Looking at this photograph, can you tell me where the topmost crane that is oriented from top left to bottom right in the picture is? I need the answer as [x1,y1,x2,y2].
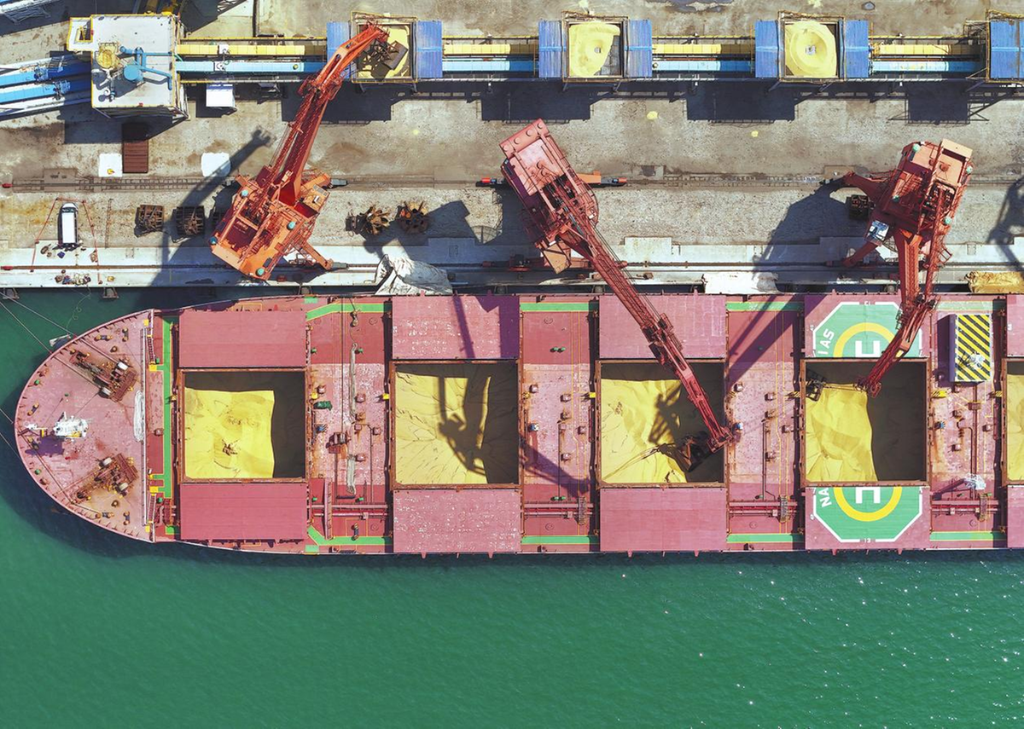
[477,123,740,452]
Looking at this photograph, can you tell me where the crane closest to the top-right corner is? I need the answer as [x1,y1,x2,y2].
[829,139,977,394]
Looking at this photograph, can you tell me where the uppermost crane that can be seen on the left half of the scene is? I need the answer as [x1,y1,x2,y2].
[210,20,383,284]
